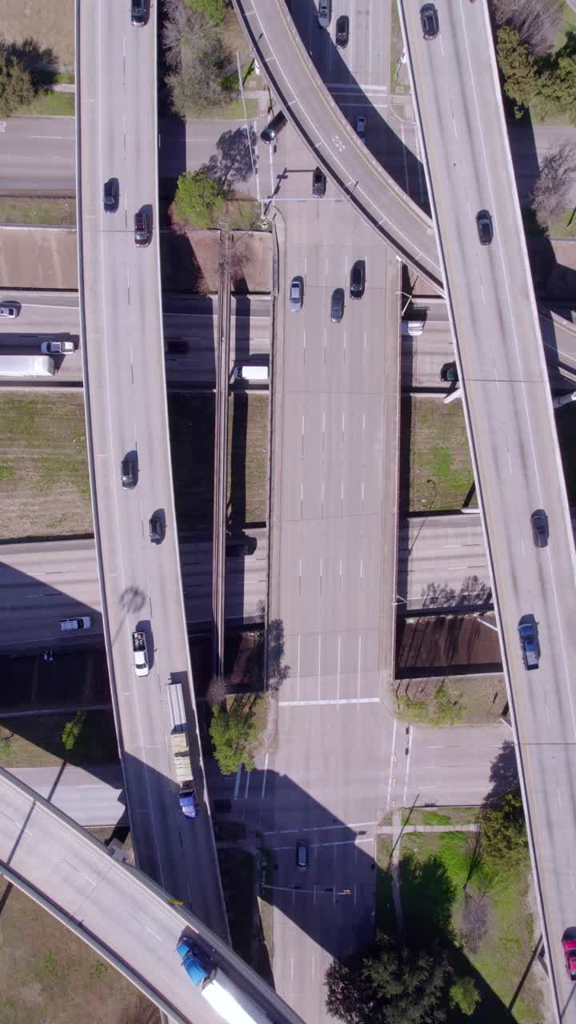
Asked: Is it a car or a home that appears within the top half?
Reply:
car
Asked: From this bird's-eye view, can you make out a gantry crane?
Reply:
No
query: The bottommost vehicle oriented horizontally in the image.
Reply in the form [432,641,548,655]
[58,616,94,630]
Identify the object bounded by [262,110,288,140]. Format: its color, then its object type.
black car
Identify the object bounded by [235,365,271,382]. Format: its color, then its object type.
white vehicle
